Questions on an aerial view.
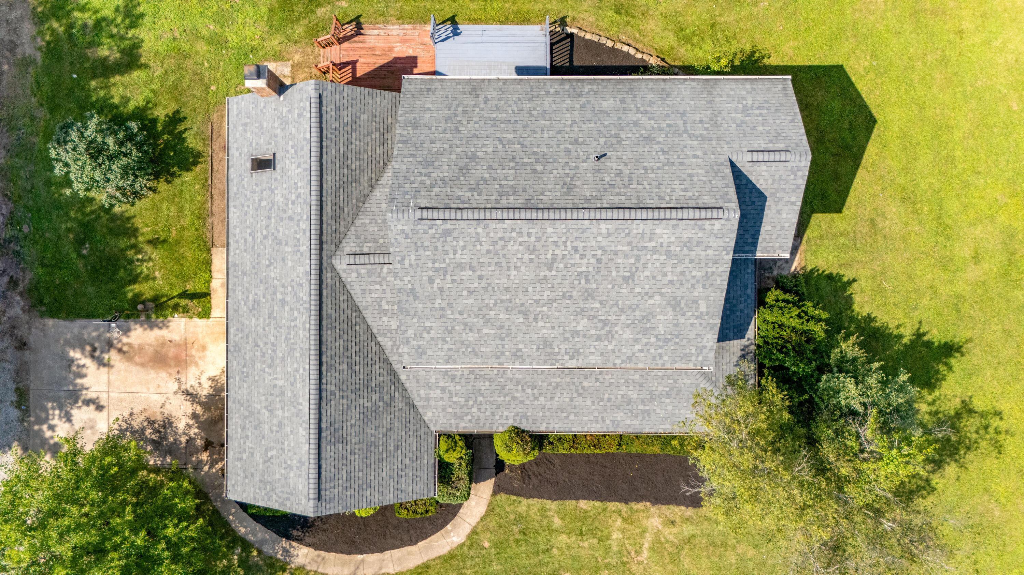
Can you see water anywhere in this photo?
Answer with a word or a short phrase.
No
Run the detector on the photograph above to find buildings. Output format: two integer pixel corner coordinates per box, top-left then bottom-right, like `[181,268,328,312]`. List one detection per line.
[226,62,811,517]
